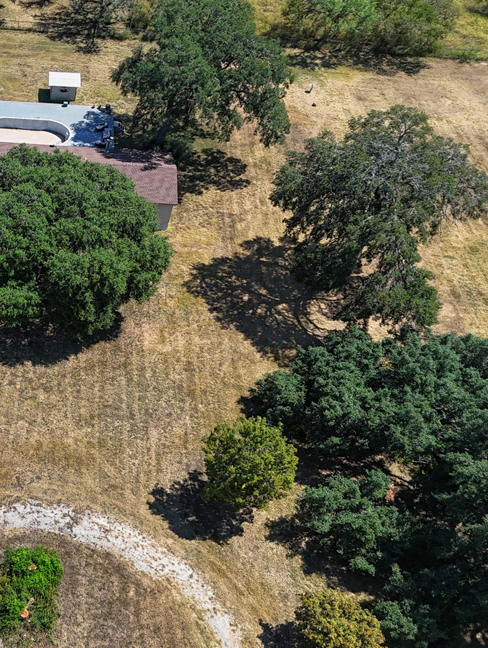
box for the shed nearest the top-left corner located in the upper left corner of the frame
[49,70,80,103]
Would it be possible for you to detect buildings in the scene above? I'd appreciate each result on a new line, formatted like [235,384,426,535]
[49,70,80,103]
[0,141,179,227]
